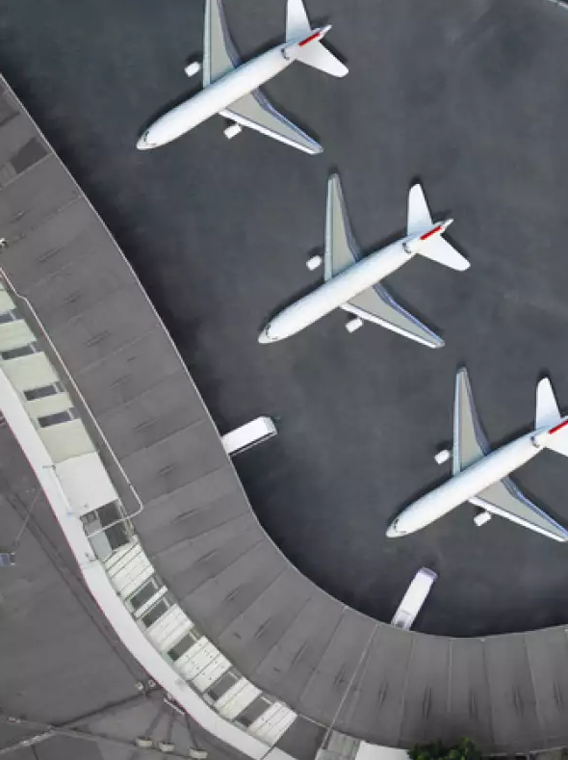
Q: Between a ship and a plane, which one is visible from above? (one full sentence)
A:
Looking from above, you can make out a plane.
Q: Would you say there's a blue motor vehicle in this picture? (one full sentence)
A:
No, no blue motor vehicle can be seen from above.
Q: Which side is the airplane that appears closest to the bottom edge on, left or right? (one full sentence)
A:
It is on the right.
